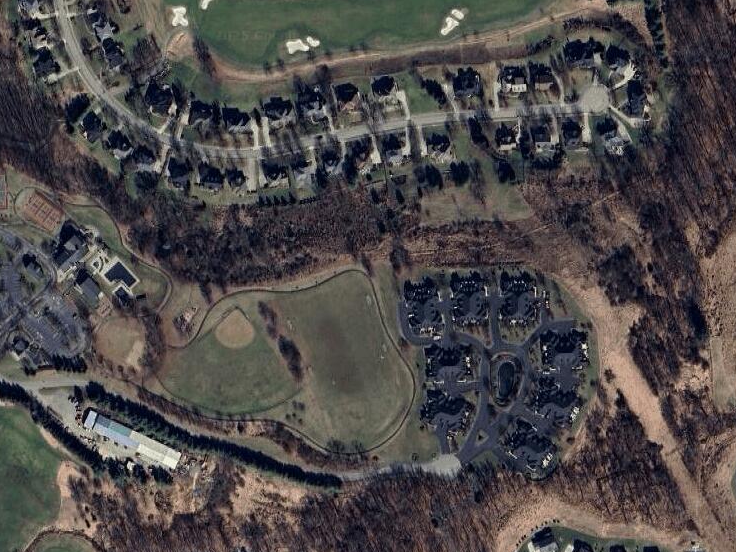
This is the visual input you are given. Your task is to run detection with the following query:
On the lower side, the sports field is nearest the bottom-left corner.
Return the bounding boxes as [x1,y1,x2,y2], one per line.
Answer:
[92,318,147,367]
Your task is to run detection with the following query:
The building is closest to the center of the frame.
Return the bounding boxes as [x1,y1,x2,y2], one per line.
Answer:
[405,291,449,330]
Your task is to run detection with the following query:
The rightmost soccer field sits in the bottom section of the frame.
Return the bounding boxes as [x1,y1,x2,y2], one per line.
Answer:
[287,280,401,440]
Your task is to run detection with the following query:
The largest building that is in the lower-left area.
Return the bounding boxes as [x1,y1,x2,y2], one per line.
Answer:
[97,412,184,465]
